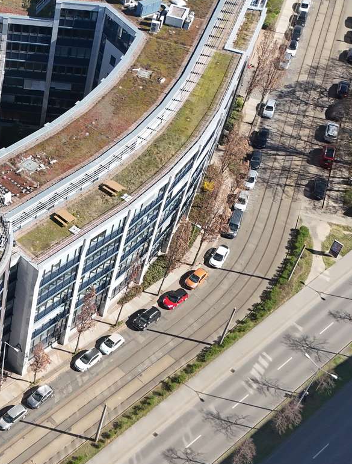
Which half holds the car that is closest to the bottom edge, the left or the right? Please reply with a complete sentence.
The car that is closest to the bottom edge appears in the left half of the scene.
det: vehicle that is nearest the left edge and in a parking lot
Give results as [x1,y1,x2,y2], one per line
[0,402,30,434]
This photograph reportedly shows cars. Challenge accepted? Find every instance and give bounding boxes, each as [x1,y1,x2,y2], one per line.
[0,402,30,434]
[344,48,352,63]
[248,150,264,171]
[23,383,55,411]
[131,304,164,331]
[313,177,331,200]
[299,0,311,11]
[234,189,252,212]
[184,266,210,291]
[335,81,351,99]
[291,23,305,39]
[244,169,261,191]
[324,122,341,142]
[322,143,338,164]
[225,209,245,235]
[161,287,186,312]
[253,126,270,149]
[71,347,103,374]
[294,8,308,25]
[208,243,232,270]
[98,331,126,357]
[262,98,278,119]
